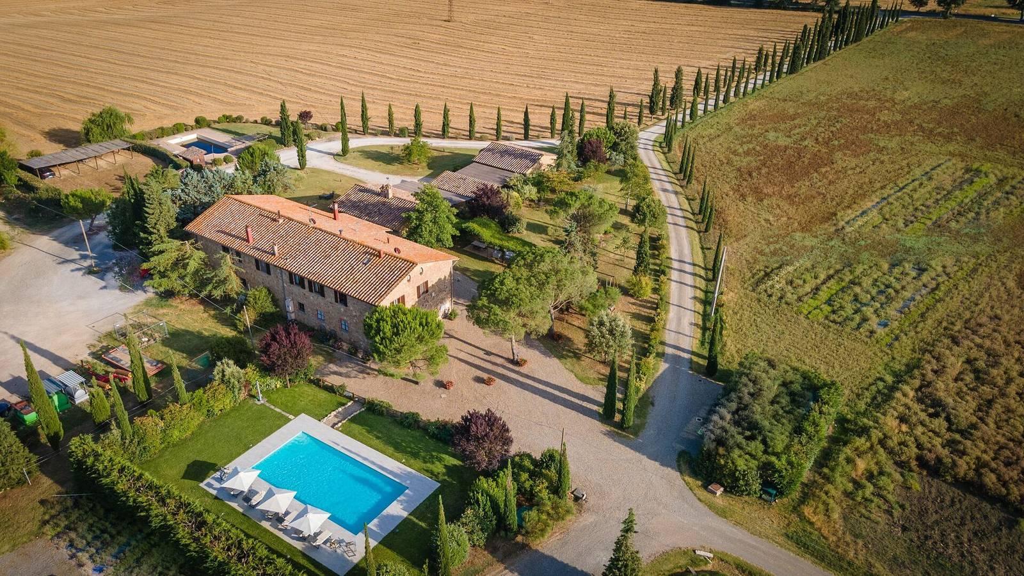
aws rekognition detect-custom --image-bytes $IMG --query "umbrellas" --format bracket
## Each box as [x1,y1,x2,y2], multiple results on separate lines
[221,466,263,502]
[288,505,334,538]
[255,486,298,517]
